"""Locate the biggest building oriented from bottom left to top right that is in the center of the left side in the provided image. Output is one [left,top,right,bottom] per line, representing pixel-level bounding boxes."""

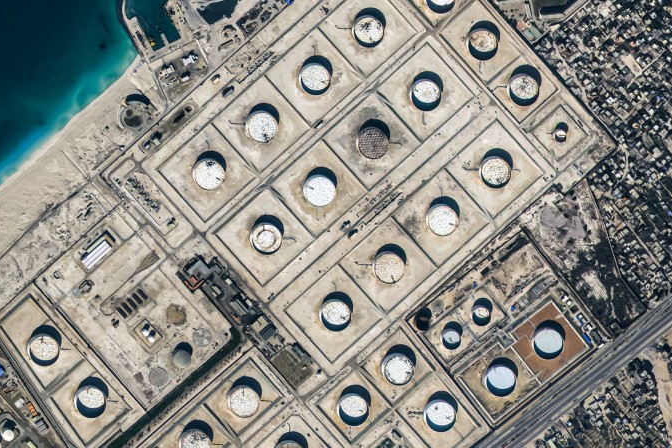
[81,240,111,267]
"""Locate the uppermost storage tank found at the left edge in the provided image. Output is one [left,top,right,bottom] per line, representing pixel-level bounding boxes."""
[26,318,60,365]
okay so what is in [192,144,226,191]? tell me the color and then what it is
white storage tank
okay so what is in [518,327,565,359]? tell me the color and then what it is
white storage tank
